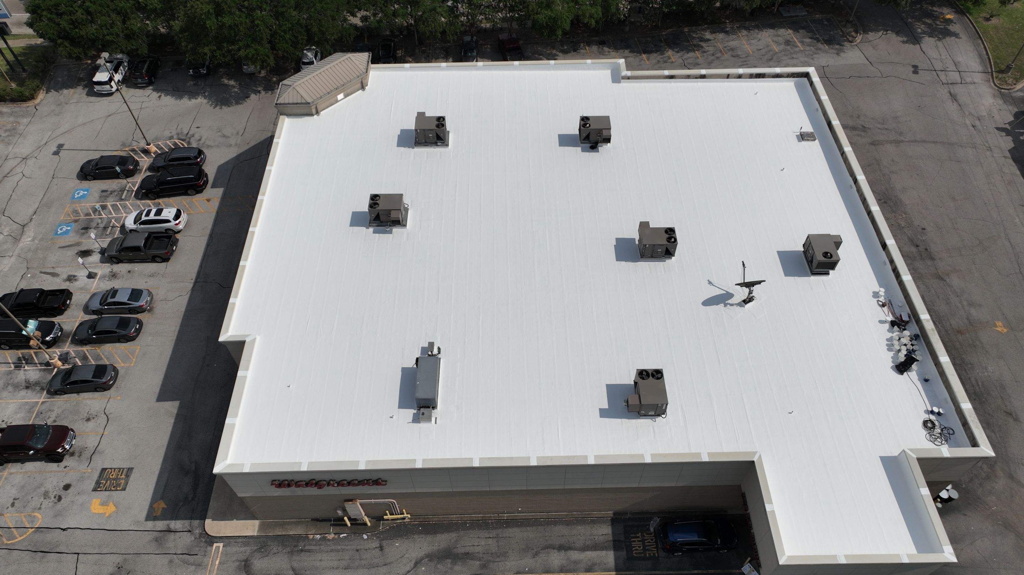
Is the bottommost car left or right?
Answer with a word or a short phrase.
right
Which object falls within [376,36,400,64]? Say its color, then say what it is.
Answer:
black car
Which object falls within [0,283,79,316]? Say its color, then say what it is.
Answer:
black truck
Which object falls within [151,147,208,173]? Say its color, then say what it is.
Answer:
black car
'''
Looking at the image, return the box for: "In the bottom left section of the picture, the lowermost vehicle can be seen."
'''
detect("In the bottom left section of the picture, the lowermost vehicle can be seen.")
[0,424,80,464]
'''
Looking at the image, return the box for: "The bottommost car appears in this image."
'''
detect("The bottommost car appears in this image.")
[658,513,739,555]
